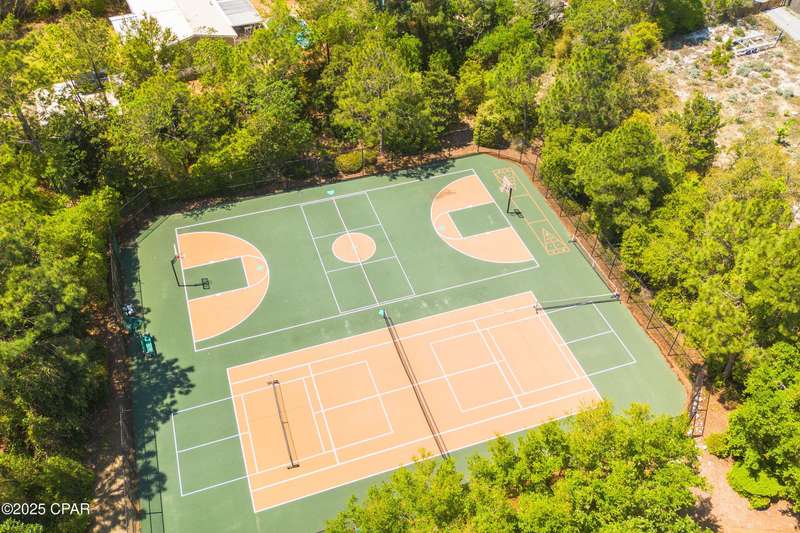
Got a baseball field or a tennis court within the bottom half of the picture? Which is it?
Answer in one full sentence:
The feature located within the bottom half of the picture is a tennis court.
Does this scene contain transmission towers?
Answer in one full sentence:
No, the scene contains no transmission tower.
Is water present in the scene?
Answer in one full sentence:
No, the scene doesn't show any water.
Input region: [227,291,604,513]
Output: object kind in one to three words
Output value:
tennis court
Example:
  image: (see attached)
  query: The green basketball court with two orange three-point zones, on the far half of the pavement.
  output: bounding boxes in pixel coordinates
[177,169,540,351]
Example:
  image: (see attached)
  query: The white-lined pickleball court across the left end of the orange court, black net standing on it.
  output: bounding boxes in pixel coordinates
[172,360,394,496]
